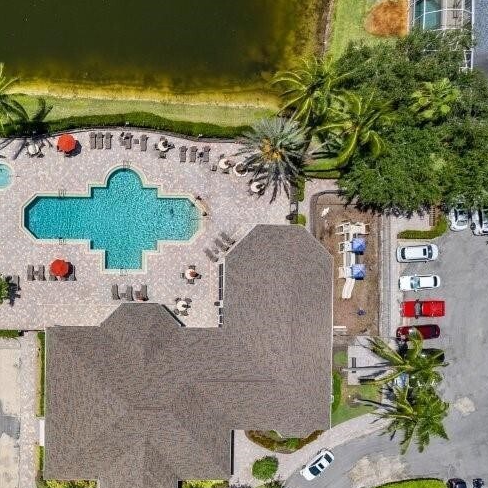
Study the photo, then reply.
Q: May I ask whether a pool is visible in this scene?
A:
Yes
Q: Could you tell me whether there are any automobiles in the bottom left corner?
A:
No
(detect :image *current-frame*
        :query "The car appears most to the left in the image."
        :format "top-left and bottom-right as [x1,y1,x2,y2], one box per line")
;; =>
[298,448,334,481]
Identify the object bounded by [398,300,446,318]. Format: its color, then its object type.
red vehicle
